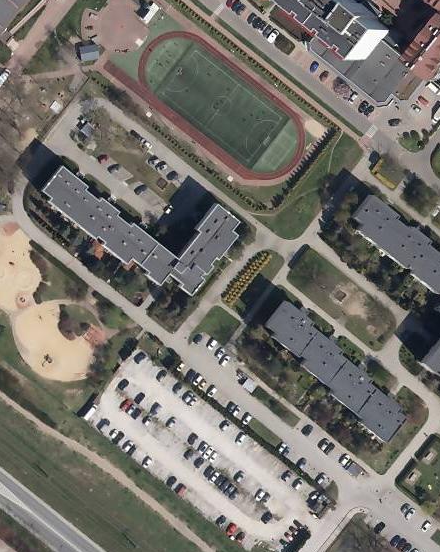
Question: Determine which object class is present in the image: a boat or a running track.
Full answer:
This aerial view contains a running track.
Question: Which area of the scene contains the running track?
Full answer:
The running track is located in the top region of the scene.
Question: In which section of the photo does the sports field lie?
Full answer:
You can find the sports field in the top area of the picture.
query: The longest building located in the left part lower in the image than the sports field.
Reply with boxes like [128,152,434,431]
[44,166,247,294]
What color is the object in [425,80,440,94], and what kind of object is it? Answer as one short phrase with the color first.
white vehicle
